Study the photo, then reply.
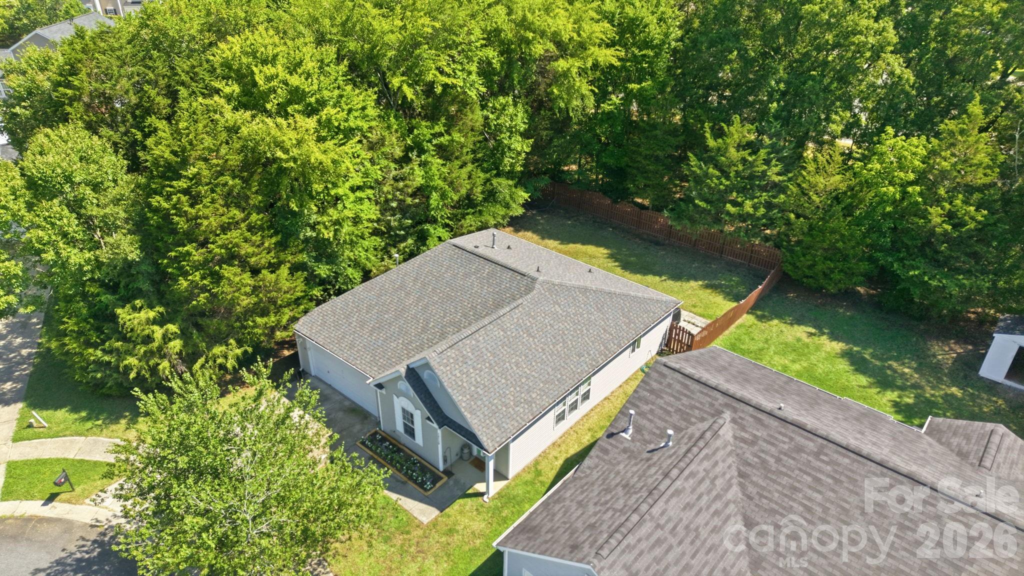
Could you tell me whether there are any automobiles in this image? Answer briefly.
No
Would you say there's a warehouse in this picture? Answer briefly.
No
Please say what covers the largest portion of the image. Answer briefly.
trees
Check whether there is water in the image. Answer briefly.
No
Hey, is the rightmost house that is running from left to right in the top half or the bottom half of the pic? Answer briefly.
bottom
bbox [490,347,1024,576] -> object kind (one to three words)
house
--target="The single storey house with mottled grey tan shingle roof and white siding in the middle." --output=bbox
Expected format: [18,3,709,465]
[291,228,685,503]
